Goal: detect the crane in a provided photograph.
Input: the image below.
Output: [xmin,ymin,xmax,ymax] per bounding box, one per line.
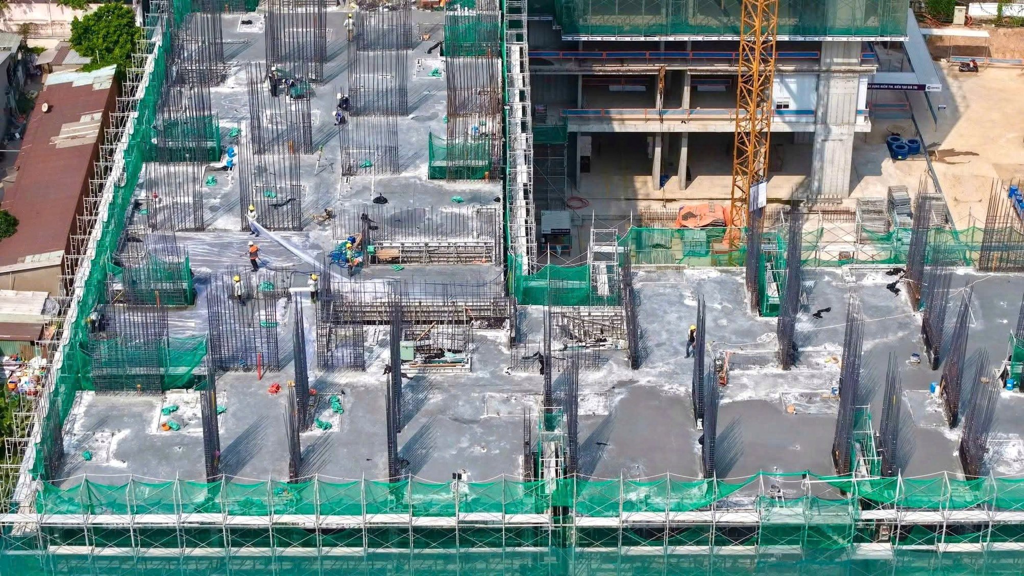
[723,0,780,232]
